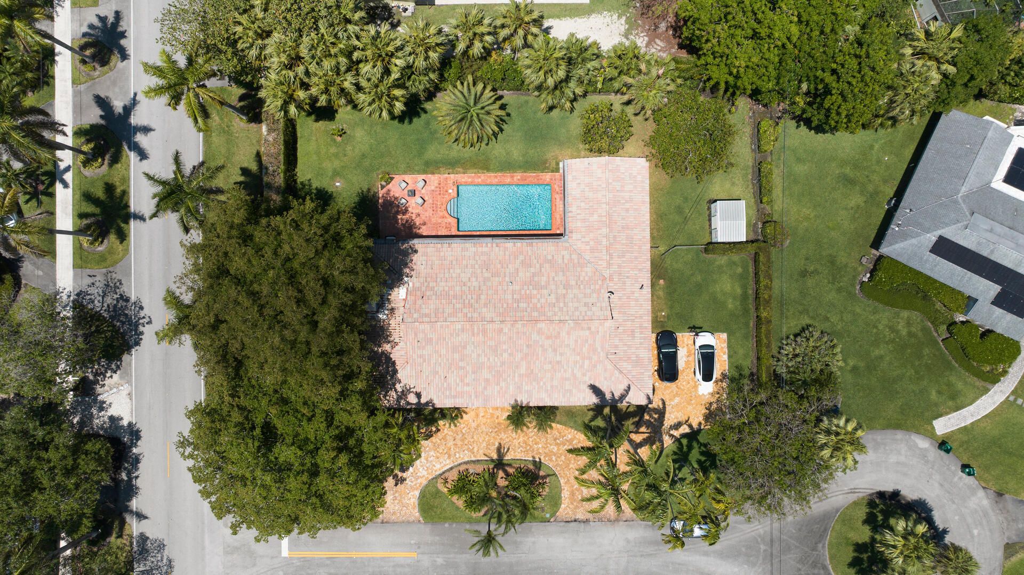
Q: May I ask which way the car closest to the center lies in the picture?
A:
vertically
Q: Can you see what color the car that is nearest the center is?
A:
black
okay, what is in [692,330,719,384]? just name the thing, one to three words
car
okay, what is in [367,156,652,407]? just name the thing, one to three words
house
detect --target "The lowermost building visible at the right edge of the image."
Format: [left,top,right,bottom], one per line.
[875,109,1024,326]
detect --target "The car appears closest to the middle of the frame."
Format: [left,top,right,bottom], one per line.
[654,330,680,383]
